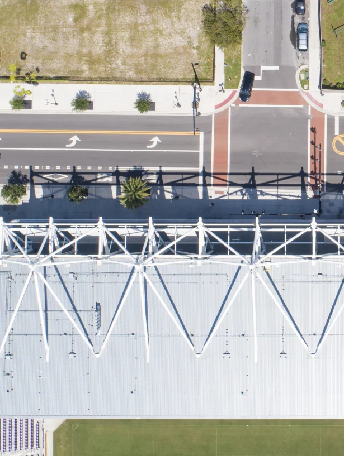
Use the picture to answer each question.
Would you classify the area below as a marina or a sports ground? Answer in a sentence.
What you see here is a sports ground.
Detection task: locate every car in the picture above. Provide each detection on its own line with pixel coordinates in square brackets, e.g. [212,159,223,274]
[238,71,254,102]
[294,0,305,15]
[296,23,308,51]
